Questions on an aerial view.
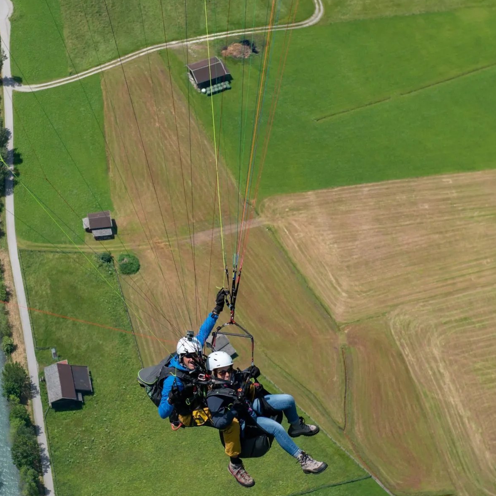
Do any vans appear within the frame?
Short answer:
No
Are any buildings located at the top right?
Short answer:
No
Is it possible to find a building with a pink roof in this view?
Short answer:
No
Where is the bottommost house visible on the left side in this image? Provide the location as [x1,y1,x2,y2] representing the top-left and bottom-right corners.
[44,359,93,409]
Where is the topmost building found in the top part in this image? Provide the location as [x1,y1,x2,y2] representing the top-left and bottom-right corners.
[188,57,232,89]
